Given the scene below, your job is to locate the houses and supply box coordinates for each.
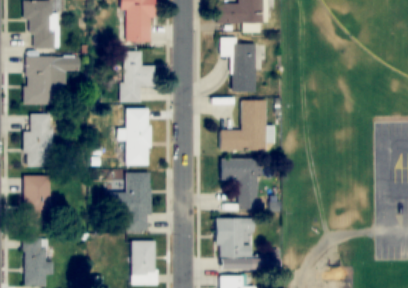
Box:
[102,168,154,234]
[214,218,258,270]
[21,238,53,286]
[216,35,264,92]
[128,240,158,286]
[218,272,256,288]
[21,0,60,49]
[218,100,275,151]
[216,0,274,32]
[219,158,264,208]
[22,49,80,105]
[115,107,152,166]
[22,113,52,167]
[118,0,156,44]
[118,50,156,102]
